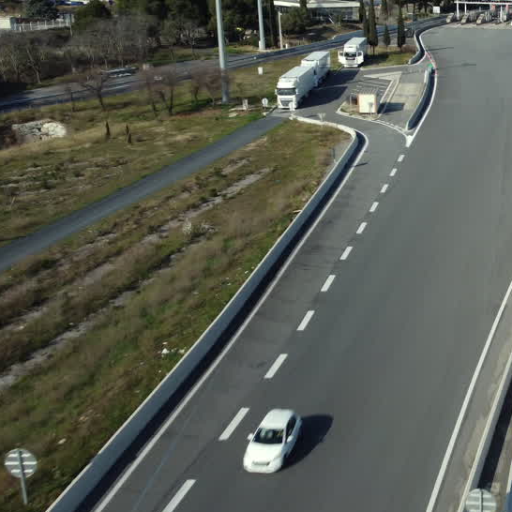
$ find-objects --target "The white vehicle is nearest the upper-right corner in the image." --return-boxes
[339,40,364,66]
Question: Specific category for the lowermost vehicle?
automobile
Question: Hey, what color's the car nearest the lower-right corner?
white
